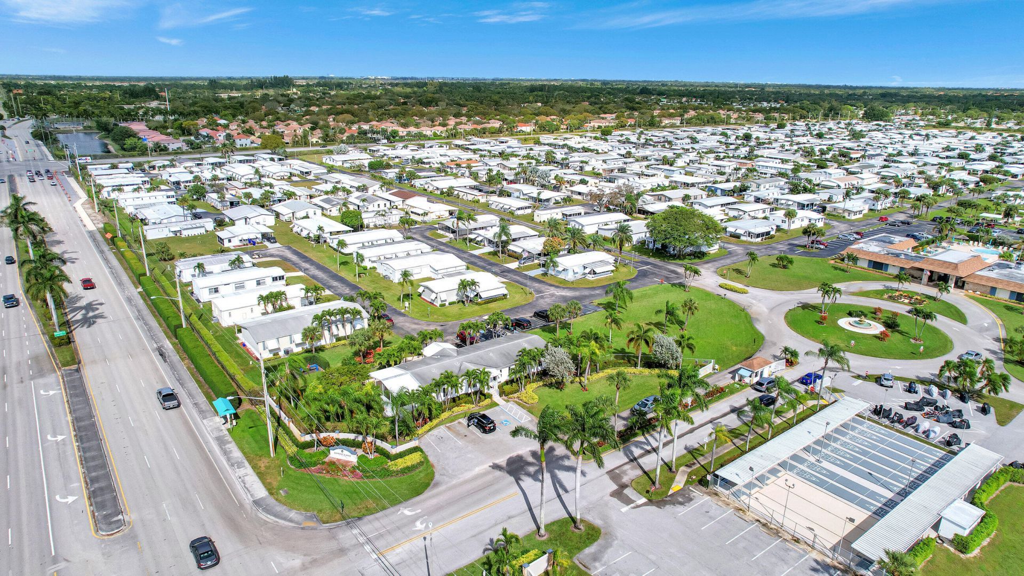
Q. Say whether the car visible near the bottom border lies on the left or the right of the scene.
left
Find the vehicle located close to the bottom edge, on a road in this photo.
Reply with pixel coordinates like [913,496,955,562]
[190,535,218,571]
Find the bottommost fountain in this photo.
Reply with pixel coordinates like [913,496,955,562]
[835,316,886,334]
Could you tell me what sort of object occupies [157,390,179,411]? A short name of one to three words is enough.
truck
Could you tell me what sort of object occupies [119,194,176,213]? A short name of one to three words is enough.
house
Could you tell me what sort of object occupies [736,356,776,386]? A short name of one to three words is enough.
building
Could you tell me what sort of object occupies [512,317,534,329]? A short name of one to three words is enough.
vehicle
